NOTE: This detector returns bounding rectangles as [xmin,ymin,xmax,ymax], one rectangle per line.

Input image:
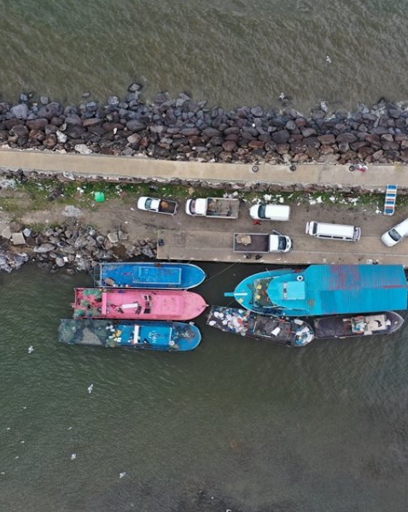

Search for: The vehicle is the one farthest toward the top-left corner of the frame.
[137,195,178,215]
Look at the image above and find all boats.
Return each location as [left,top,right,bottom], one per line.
[206,306,315,346]
[59,319,202,352]
[313,311,405,339]
[74,289,210,321]
[93,263,206,289]
[224,264,408,315]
